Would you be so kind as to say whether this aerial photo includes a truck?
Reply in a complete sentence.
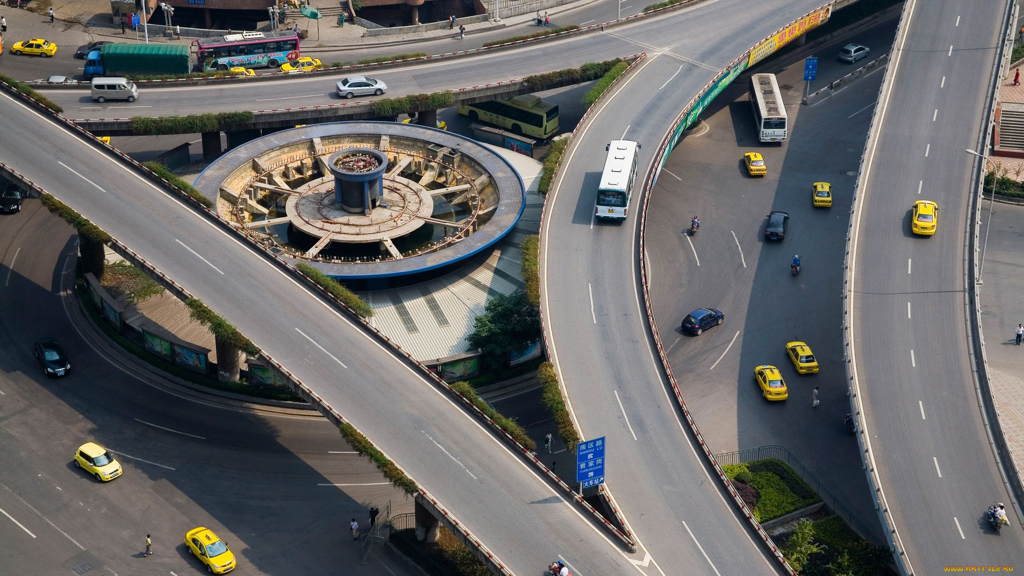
Yes, this view includes a truck.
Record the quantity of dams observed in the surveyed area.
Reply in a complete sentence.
No dams are visible.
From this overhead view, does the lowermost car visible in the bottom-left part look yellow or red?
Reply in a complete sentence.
In this view, the lowermost car visible in the bottom-left part is yellow.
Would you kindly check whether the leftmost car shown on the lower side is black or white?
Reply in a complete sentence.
The leftmost car shown on the lower side is black.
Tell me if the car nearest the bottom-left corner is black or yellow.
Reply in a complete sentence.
The color of the car nearest the bottom-left corner is yellow.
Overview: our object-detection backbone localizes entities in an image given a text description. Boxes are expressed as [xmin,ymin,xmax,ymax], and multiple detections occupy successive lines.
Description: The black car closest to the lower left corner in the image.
[33,337,71,379]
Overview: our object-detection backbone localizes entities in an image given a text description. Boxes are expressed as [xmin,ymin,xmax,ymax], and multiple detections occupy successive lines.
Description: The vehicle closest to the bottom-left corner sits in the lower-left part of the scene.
[72,439,120,482]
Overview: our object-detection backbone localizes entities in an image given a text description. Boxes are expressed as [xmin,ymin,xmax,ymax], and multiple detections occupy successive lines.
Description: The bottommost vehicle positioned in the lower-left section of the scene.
[187,526,235,576]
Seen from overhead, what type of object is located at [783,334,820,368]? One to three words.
car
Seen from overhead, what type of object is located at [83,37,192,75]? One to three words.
truck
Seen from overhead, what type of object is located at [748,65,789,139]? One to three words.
bus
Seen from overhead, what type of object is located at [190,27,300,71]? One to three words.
bus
